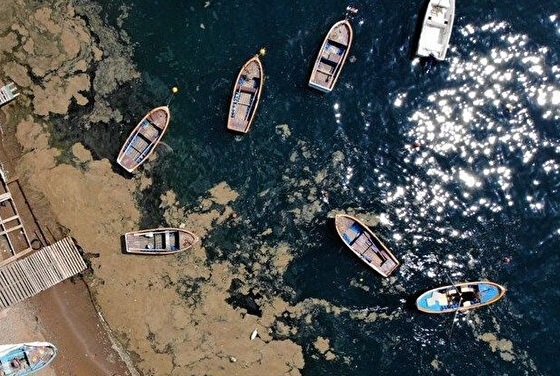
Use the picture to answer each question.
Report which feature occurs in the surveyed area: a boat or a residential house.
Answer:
boat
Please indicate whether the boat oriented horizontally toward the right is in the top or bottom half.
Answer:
bottom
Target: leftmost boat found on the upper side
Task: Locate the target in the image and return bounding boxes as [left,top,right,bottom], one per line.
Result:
[123,105,172,171]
